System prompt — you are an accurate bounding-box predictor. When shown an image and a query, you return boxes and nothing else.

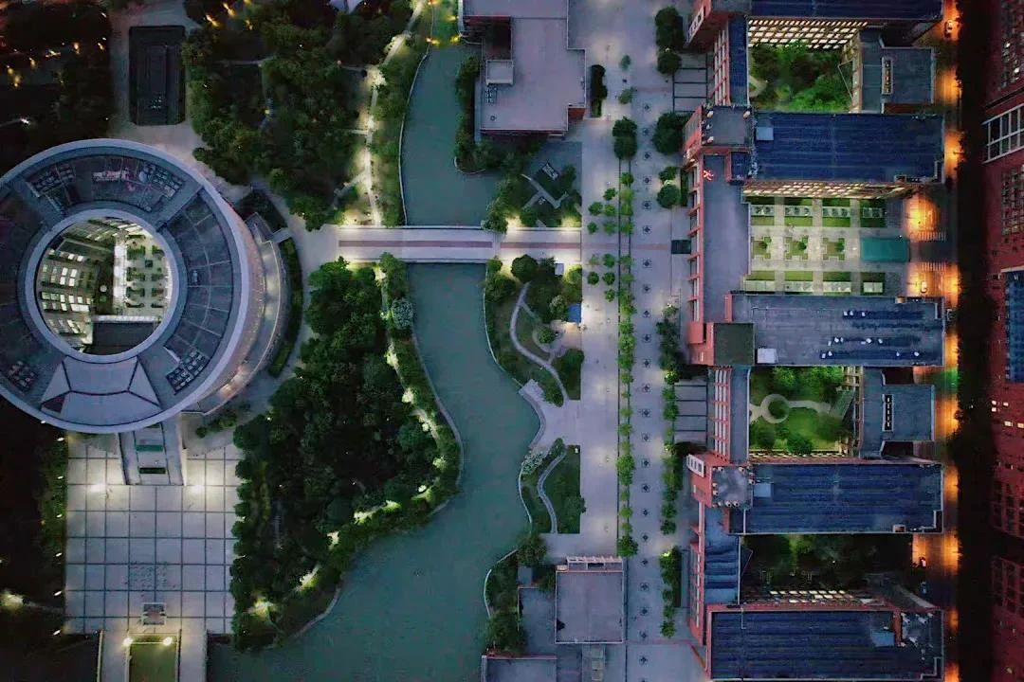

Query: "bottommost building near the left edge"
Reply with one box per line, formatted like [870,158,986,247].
[0,140,294,432]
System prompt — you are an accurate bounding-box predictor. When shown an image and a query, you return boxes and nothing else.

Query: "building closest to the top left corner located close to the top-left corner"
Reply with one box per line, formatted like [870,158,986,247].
[129,25,193,130]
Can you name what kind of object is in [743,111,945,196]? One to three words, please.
building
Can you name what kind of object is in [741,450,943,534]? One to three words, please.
building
